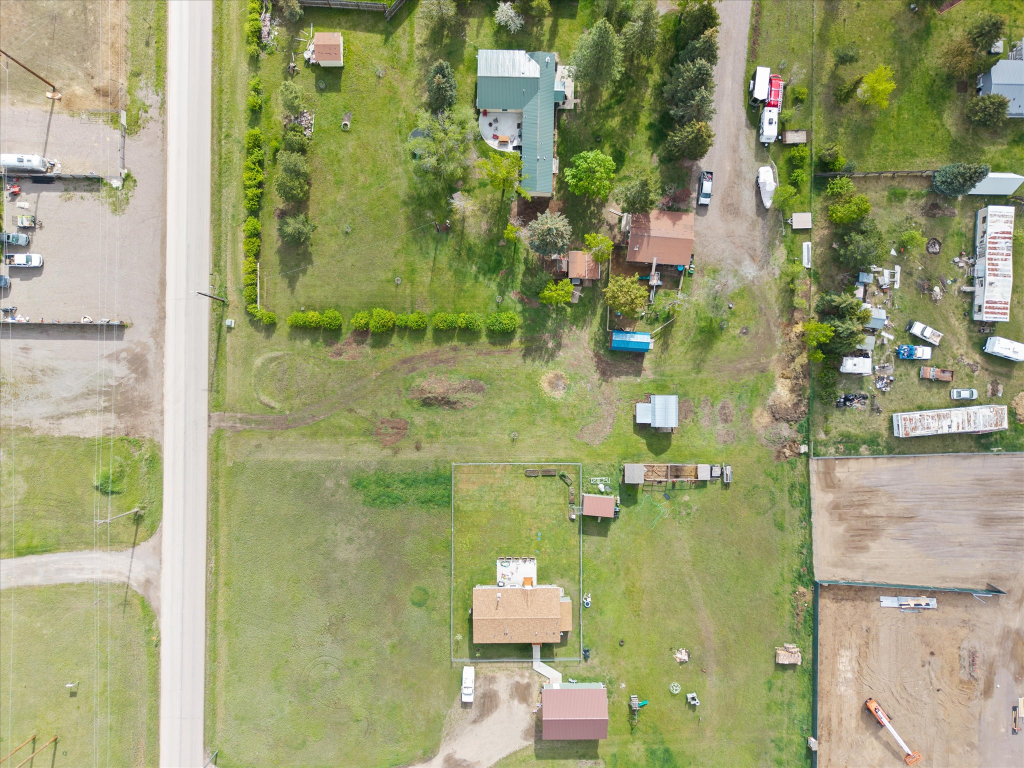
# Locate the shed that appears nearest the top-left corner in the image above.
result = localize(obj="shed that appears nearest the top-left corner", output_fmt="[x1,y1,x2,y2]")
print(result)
[312,33,345,67]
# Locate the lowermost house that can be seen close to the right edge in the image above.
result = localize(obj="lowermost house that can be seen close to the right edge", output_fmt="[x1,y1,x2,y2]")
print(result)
[887,405,1008,438]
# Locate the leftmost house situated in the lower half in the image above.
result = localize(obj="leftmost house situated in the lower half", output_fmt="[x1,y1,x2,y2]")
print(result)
[471,573,572,644]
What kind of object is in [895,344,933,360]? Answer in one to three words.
vehicle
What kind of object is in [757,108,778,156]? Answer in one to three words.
trailer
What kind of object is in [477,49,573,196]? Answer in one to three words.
house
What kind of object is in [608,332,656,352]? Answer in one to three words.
shed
